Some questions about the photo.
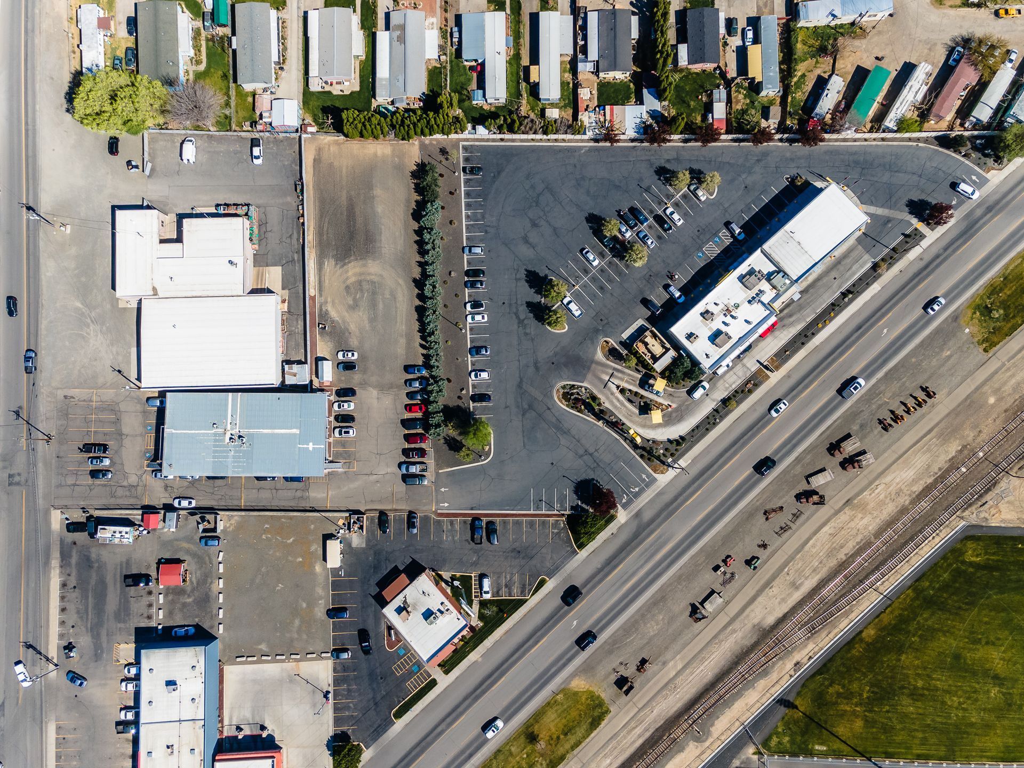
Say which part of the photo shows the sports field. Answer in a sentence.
The sports field appears toward the bottom right of the photo.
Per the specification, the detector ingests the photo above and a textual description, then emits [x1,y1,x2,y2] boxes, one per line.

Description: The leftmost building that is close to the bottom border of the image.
[135,637,219,768]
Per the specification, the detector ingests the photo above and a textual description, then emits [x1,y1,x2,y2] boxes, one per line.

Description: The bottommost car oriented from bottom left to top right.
[484,717,503,739]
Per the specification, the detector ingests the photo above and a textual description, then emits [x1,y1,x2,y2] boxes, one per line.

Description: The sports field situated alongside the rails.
[768,535,1024,761]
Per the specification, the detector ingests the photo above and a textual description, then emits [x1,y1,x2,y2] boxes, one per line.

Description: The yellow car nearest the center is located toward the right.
[628,427,641,444]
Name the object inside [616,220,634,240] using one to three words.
car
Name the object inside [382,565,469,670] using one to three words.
building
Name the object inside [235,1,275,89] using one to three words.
house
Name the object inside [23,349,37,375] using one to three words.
vehicle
